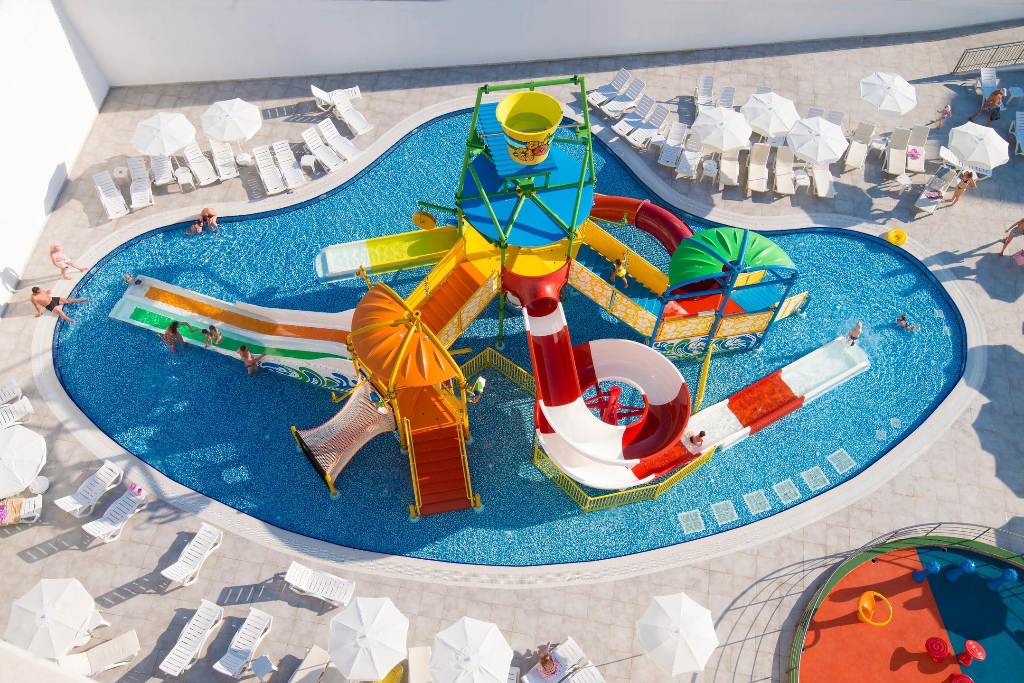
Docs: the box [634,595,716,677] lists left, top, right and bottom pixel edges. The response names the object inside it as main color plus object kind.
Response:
white umbrella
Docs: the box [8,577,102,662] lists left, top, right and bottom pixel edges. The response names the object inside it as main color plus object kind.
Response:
white umbrella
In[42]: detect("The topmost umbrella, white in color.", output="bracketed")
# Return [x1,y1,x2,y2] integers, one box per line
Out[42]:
[860,77,916,123]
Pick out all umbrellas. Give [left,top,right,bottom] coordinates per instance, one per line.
[0,430,57,503]
[134,120,197,190]
[737,96,796,163]
[204,102,264,168]
[325,597,410,683]
[943,124,1003,194]
[860,77,916,123]
[782,122,841,190]
[634,595,716,677]
[8,577,102,662]
[690,111,746,178]
[431,620,516,683]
